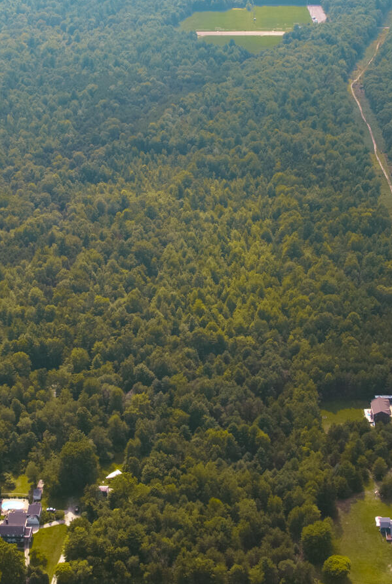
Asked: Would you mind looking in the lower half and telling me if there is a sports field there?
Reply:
No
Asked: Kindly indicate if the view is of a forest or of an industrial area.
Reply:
forest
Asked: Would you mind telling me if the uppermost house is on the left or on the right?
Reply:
right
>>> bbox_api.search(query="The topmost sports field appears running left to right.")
[181,5,328,32]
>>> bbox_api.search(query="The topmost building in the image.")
[360,398,392,424]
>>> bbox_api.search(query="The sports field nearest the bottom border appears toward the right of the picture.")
[194,31,284,55]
